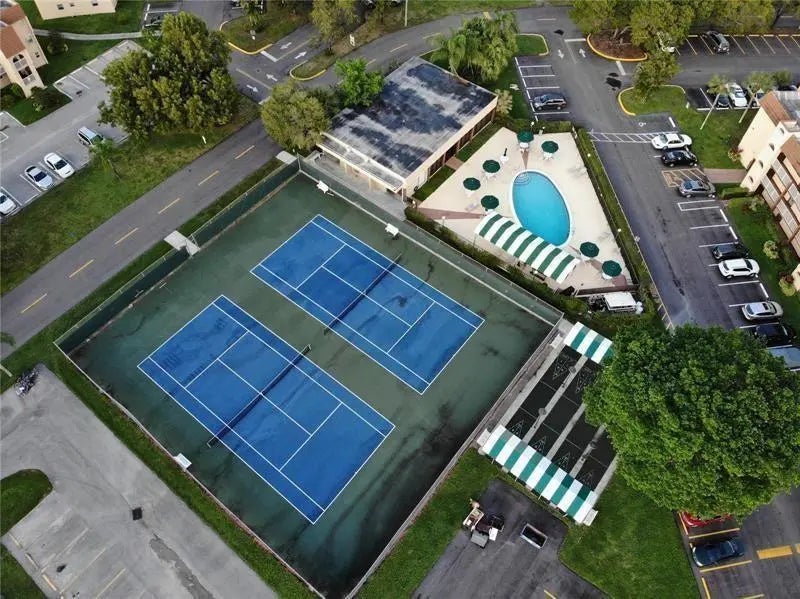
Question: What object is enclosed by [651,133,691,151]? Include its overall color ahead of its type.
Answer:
white car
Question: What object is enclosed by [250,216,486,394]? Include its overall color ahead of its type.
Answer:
blue tennis court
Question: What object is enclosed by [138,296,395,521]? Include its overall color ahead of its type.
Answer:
blue tennis court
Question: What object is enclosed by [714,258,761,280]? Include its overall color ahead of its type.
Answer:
white car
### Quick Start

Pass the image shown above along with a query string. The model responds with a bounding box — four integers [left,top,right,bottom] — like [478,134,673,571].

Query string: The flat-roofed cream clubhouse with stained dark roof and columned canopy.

[312,60,499,207]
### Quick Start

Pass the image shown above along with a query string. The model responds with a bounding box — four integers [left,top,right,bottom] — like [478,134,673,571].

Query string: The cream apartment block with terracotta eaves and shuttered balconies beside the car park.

[734,86,800,249]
